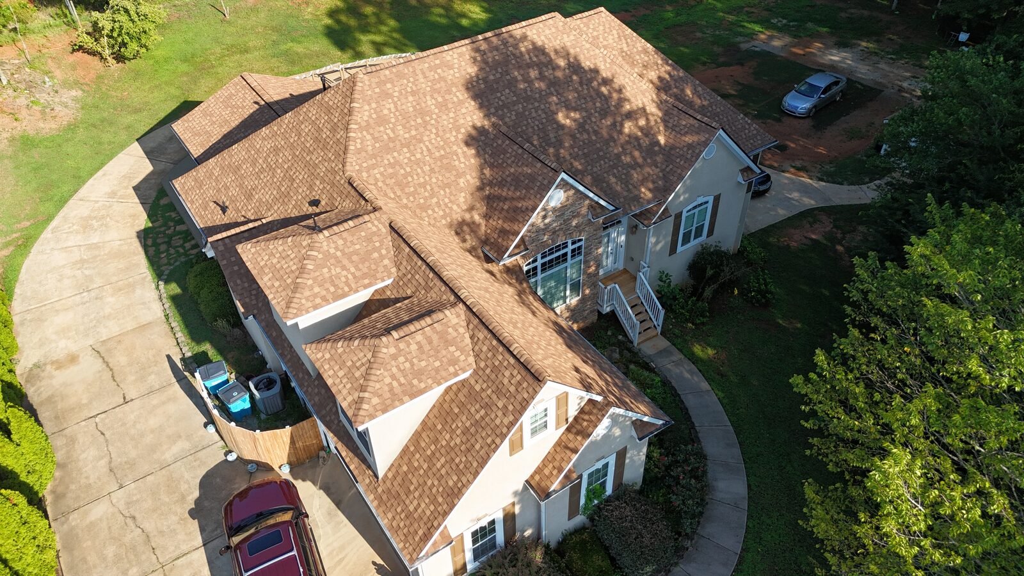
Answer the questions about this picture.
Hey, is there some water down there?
No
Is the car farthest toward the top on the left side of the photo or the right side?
right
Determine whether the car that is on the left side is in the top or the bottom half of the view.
bottom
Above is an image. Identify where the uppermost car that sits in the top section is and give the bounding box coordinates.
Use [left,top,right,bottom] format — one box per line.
[778,63,853,117]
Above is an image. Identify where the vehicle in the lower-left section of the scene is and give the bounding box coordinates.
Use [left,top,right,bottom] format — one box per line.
[220,477,331,576]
